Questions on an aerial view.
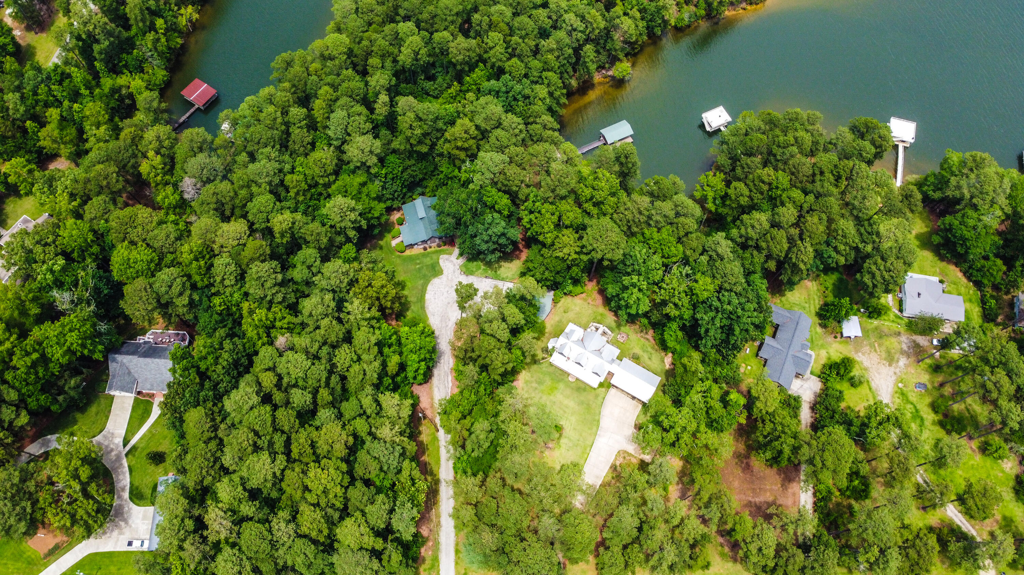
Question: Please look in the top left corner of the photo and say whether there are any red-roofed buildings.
Yes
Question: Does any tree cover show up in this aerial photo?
Yes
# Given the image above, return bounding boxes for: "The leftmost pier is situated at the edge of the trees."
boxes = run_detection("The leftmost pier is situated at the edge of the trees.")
[702,104,732,132]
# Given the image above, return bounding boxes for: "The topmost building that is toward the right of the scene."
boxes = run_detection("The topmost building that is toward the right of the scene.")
[600,120,633,147]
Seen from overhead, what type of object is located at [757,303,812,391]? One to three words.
house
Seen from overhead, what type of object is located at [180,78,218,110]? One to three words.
building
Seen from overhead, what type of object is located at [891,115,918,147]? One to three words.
pier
